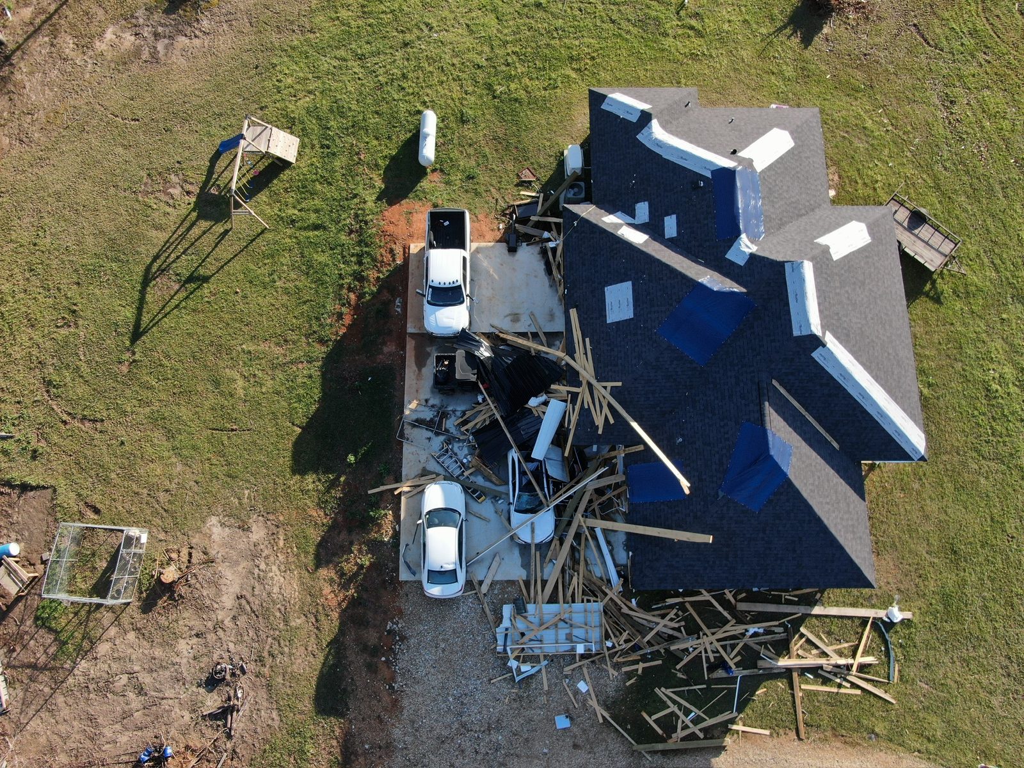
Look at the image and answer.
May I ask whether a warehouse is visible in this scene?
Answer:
No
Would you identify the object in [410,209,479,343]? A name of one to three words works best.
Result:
truck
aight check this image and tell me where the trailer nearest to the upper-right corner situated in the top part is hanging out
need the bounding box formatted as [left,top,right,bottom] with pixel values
[886,185,964,277]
